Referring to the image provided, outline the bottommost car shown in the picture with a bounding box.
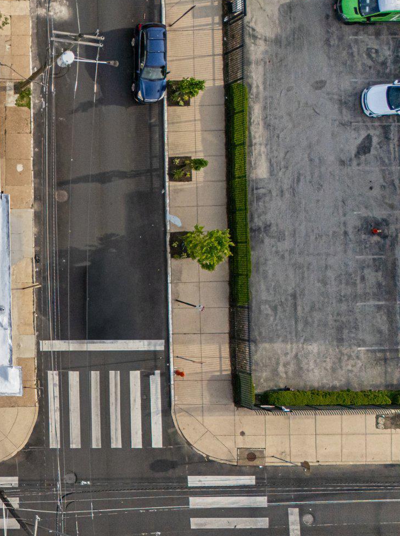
[359,79,400,116]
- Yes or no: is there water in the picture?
No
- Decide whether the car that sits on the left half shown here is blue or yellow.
blue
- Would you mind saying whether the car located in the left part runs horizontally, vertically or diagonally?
vertically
